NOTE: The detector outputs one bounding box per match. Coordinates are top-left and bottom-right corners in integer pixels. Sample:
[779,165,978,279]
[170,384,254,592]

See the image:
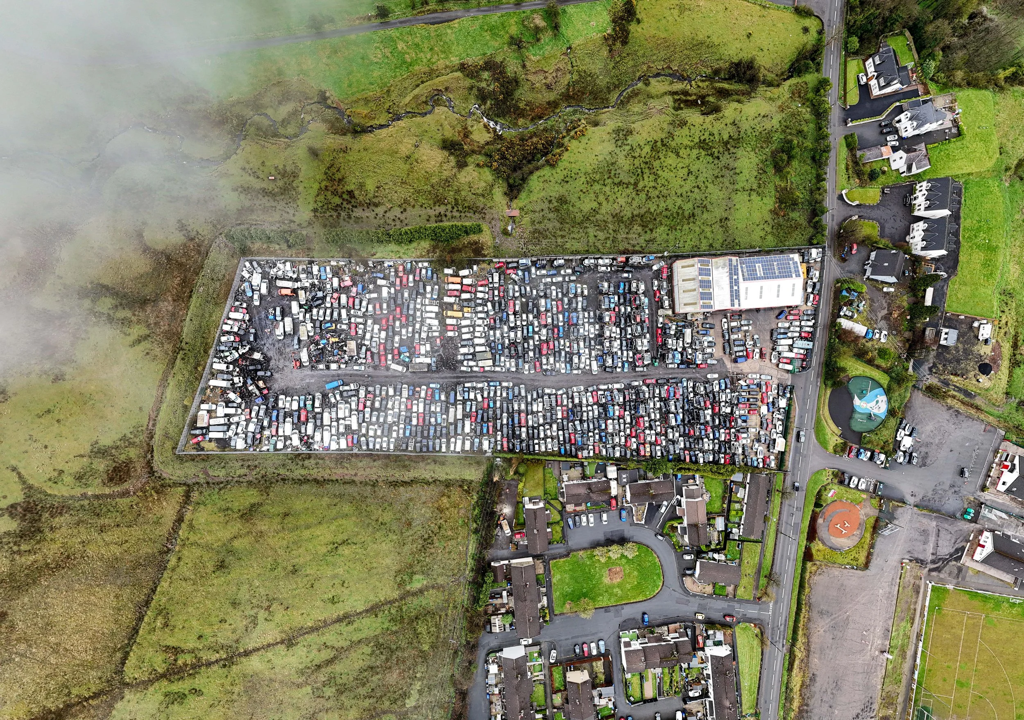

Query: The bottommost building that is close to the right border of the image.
[968,528,1024,577]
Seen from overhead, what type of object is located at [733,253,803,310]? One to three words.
building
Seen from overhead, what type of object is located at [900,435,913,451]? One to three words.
vehicle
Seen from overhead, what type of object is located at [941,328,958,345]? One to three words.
camper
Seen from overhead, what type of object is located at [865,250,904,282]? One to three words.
house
